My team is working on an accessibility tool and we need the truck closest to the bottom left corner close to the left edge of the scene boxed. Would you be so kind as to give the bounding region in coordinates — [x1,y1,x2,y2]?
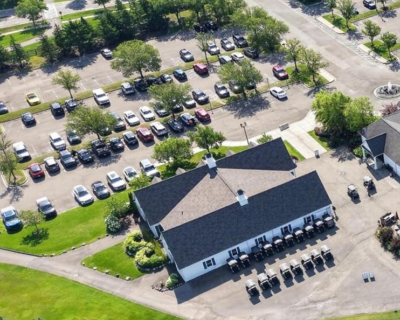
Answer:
[0,207,24,232]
